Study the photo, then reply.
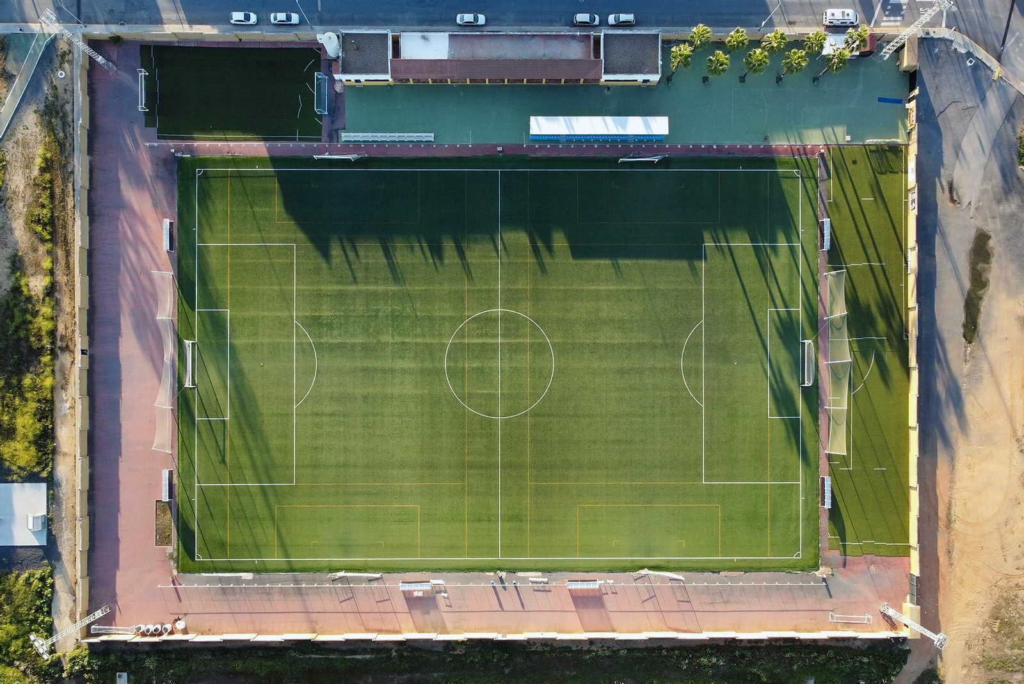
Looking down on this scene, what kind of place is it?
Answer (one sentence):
This looks like a sports ground.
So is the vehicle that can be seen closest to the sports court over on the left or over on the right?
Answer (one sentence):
The vehicle that can be seen closest to the sports court appears in the right half of the scene.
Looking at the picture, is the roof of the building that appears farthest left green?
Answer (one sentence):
No, the color of the roof of the building that appears farthest left is white.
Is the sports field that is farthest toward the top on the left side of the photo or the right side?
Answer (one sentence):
The sports field that is farthest toward the top sits on the left side.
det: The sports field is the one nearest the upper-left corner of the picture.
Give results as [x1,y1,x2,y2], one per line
[140,45,322,140]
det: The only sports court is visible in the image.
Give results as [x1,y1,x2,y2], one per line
[339,40,909,145]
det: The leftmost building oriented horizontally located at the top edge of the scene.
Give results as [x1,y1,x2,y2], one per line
[339,30,662,89]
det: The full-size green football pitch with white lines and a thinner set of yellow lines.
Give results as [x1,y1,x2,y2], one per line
[178,157,820,573]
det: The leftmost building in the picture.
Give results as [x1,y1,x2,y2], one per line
[0,483,50,546]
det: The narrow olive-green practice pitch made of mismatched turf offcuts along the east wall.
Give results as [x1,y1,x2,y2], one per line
[828,145,910,556]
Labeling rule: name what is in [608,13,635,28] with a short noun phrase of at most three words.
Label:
car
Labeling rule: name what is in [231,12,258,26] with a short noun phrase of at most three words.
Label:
car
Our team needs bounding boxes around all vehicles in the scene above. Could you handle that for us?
[574,13,599,27]
[456,13,485,27]
[821,8,858,28]
[231,12,258,26]
[270,12,300,26]
[608,13,635,28]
